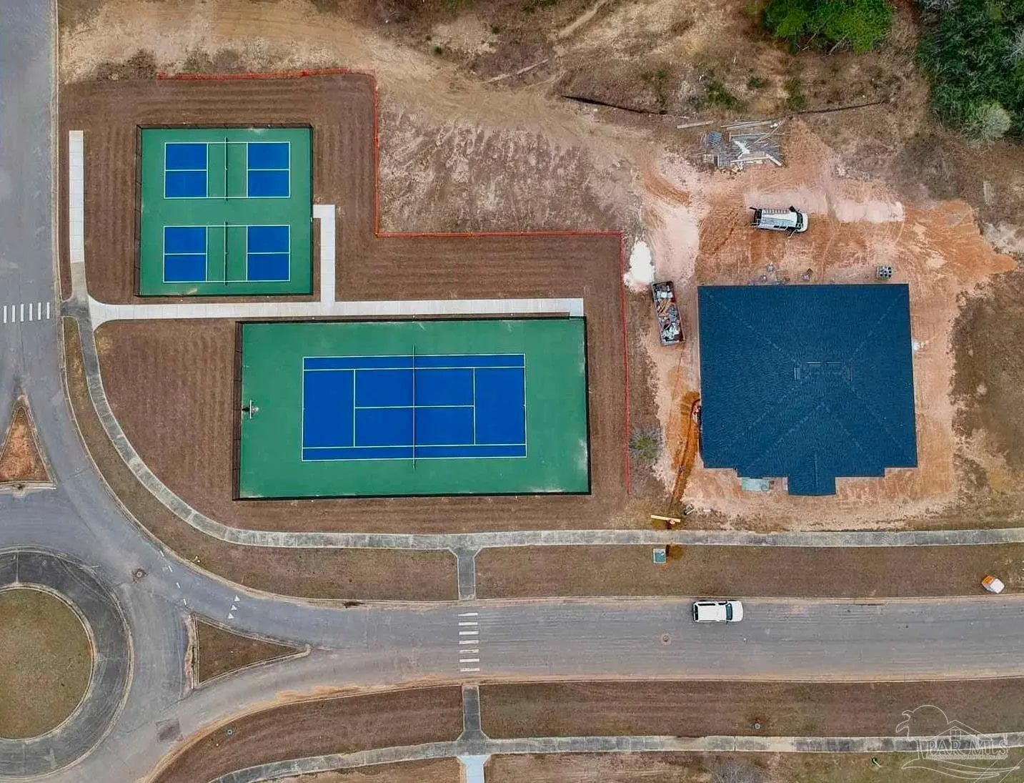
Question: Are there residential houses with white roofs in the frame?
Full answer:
No, the picture doesn't show any residential house with a white roof.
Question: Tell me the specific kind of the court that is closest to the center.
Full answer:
I'd identify the court that is closest to the center as a tennis court.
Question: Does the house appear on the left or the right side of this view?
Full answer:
The house appears in the right half of the scene.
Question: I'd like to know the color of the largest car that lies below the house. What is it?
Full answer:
In this view, the largest car that lies below the house is white.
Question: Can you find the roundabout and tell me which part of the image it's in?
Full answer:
The roundabout appears toward the bottom left of the photo.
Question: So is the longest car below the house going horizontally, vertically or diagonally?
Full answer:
The longest car below the house is oriented horizontally.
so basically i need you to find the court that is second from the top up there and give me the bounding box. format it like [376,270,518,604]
[139,211,312,295]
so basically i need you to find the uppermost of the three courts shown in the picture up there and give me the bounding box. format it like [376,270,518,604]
[141,128,312,212]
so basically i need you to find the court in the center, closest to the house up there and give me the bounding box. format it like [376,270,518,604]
[241,320,588,498]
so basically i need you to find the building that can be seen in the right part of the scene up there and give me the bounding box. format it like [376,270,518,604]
[697,283,918,495]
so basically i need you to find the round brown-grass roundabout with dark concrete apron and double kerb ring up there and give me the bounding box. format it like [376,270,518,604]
[0,544,135,782]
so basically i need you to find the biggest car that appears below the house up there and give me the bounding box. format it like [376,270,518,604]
[692,600,743,623]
